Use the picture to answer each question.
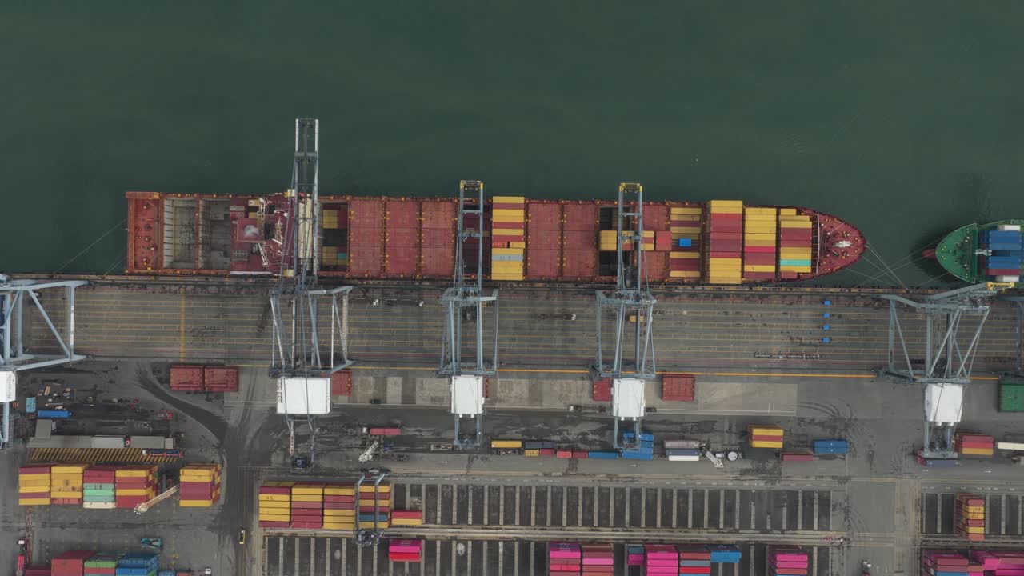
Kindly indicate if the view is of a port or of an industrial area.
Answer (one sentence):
It's a port.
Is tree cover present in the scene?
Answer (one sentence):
No, no tree cover is visible.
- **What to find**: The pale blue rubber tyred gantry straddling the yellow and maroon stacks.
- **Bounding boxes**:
[353,469,389,552]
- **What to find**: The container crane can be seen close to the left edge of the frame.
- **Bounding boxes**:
[0,278,105,445]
